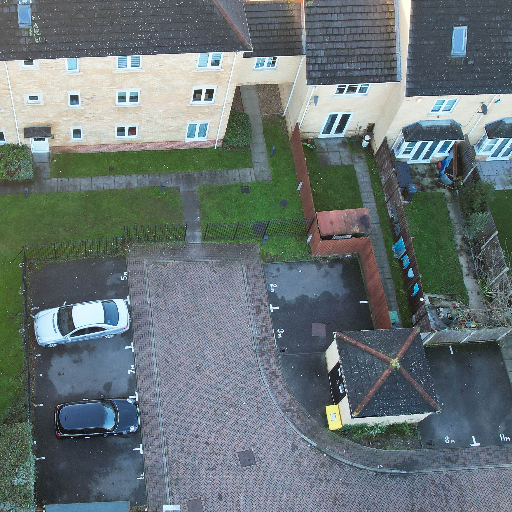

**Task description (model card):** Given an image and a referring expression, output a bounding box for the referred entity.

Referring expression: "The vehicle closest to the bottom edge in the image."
[55,392,141,442]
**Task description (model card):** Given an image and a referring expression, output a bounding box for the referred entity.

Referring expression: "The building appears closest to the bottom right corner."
[331,325,442,424]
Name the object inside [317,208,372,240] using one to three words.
shed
